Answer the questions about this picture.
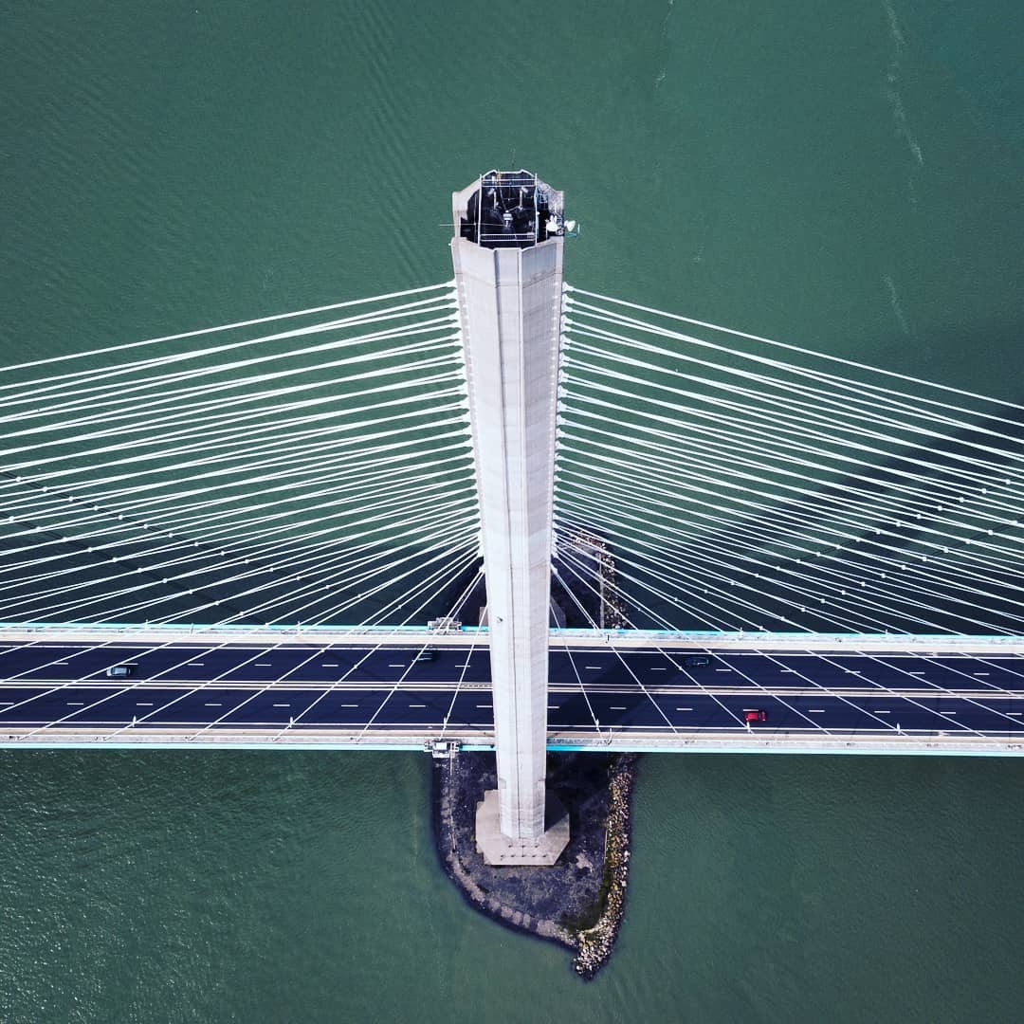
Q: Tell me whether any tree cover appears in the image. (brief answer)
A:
No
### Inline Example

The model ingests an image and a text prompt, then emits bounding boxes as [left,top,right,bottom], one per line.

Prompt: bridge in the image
[0,174,1024,866]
